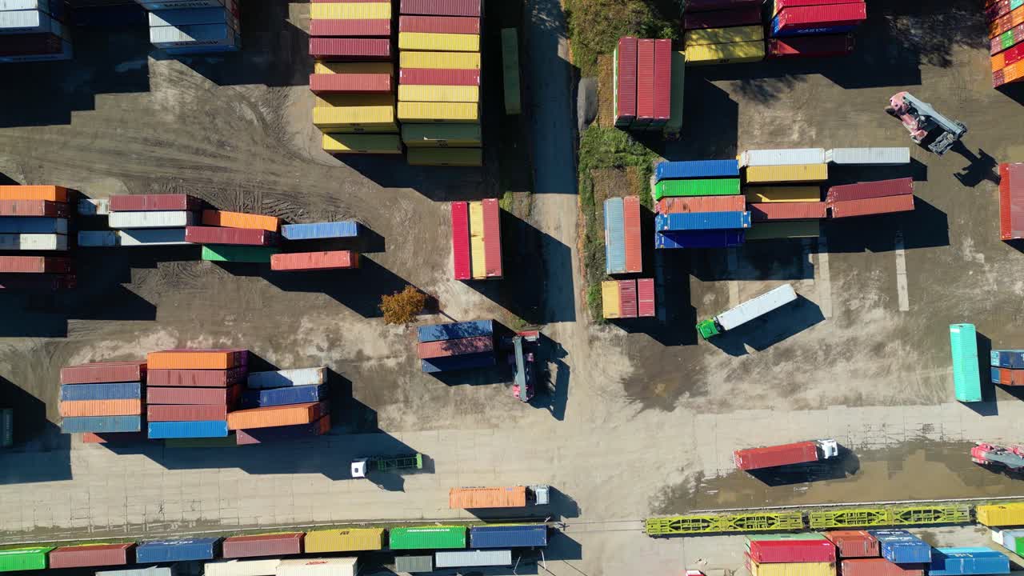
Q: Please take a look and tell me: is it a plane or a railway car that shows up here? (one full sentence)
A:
I can see a railway car in this picture.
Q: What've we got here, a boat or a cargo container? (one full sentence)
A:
I can see a cargo container in this picture.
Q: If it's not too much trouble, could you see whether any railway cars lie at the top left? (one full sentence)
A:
No, no railway car appears at the top left.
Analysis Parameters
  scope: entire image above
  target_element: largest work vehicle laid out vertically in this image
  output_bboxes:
[495,321,536,404]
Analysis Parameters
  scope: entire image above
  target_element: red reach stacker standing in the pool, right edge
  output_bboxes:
[964,440,1024,482]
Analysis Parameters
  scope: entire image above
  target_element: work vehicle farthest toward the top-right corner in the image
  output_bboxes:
[881,94,973,156]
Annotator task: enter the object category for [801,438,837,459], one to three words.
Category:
truck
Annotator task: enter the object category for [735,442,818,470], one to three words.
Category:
shipping container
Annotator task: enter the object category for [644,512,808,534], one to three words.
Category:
rail car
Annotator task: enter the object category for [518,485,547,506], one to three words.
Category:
truck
